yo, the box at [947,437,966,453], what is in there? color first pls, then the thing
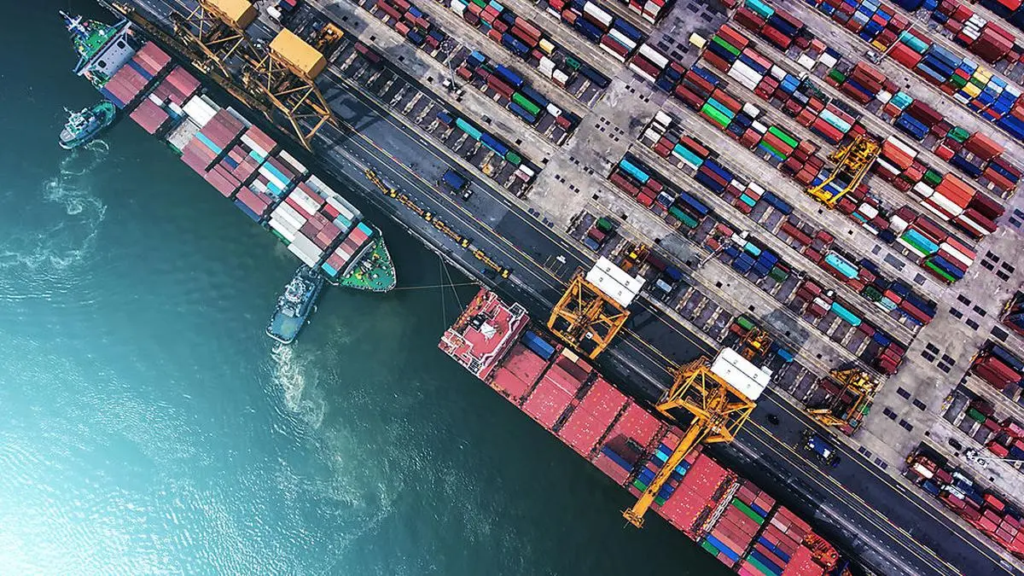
black car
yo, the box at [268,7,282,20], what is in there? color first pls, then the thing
white vehicle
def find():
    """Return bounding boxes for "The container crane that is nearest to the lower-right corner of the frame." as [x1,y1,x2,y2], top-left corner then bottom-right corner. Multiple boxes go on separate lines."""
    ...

[800,366,888,439]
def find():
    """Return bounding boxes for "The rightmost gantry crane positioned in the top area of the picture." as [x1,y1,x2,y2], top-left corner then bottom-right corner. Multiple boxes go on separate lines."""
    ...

[808,134,890,213]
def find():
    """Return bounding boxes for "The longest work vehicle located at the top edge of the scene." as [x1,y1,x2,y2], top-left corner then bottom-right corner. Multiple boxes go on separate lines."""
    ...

[310,11,344,41]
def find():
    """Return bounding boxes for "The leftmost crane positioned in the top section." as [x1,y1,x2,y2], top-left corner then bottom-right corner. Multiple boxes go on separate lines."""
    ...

[151,0,277,106]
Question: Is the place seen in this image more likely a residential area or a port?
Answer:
port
